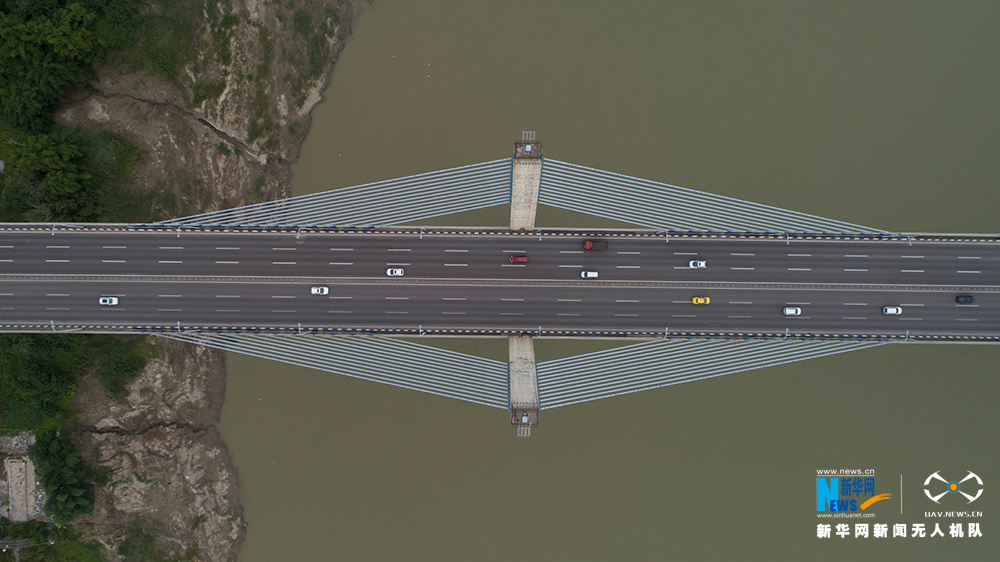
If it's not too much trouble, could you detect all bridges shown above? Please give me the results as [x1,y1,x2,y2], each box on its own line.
[0,128,1000,439]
